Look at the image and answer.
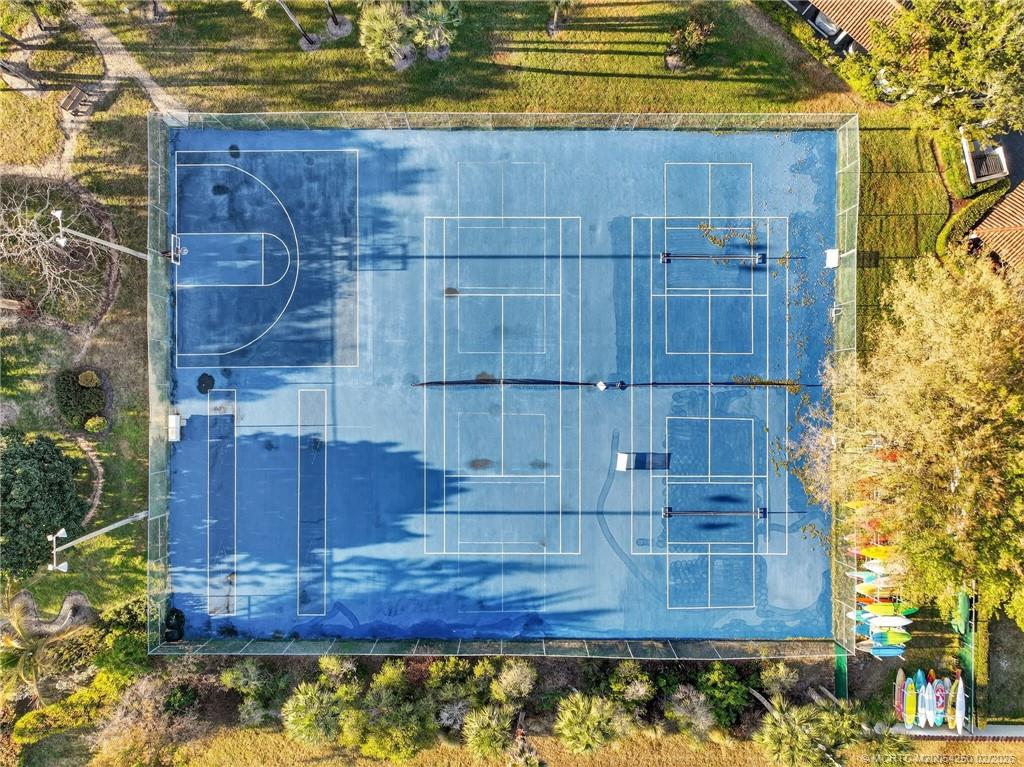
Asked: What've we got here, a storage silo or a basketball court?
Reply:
basketball court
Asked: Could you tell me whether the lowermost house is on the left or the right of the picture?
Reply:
right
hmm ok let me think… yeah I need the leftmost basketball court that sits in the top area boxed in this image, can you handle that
[176,149,359,368]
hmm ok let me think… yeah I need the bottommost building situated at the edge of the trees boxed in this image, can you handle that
[970,182,1024,289]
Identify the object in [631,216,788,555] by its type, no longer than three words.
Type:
tennis court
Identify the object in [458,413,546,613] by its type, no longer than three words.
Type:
sports court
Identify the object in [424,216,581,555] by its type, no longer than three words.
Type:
tennis court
